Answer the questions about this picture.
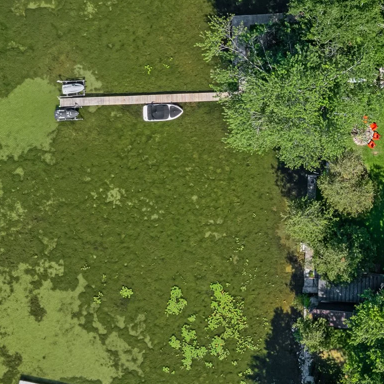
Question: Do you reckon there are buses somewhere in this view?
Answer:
No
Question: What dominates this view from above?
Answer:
water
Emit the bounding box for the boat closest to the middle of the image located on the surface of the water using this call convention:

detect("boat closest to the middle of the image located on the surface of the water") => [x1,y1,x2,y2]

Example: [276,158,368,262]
[142,103,184,121]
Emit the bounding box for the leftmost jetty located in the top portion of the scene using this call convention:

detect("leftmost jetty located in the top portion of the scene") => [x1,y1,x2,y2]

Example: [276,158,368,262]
[58,89,234,107]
